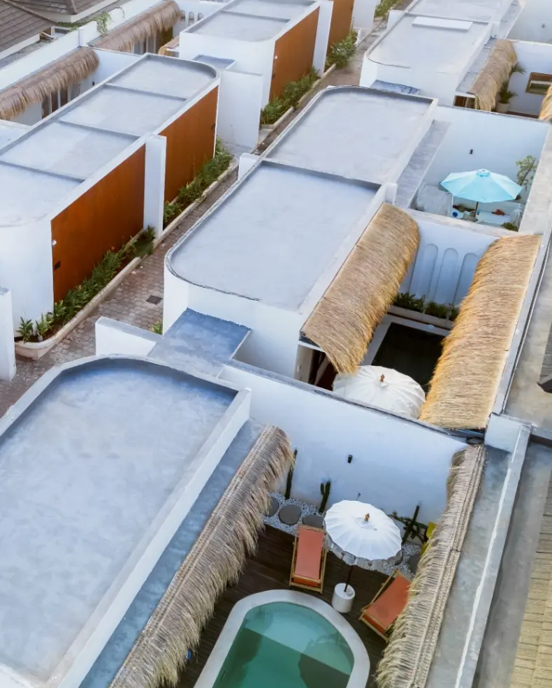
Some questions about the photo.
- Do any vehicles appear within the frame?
No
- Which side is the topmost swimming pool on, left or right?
right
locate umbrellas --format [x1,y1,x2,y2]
[441,167,521,226]
[313,509,400,614]
[333,362,423,417]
